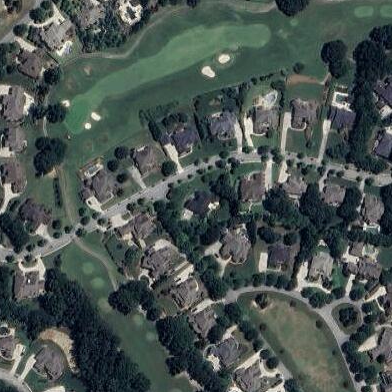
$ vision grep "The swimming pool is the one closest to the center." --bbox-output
[80,163,104,182]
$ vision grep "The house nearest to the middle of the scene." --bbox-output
[183,190,217,215]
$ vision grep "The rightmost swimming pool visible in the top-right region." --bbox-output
[331,92,349,106]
